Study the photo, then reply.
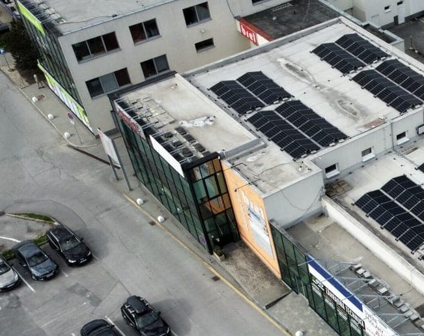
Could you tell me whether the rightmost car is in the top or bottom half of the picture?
bottom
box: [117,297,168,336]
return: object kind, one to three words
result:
car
